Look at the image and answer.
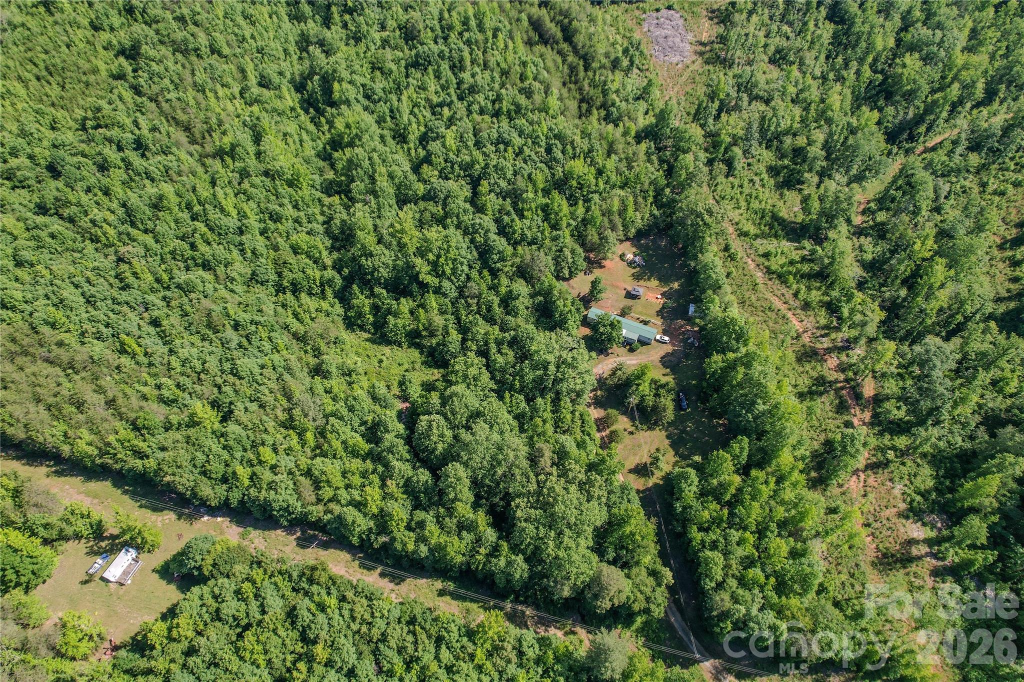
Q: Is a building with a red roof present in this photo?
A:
No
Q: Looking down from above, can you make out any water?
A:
No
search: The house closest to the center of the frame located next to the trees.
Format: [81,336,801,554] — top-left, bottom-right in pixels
[588,307,658,347]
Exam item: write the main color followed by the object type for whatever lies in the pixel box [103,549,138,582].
white camper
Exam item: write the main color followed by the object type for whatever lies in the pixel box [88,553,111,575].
white truck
